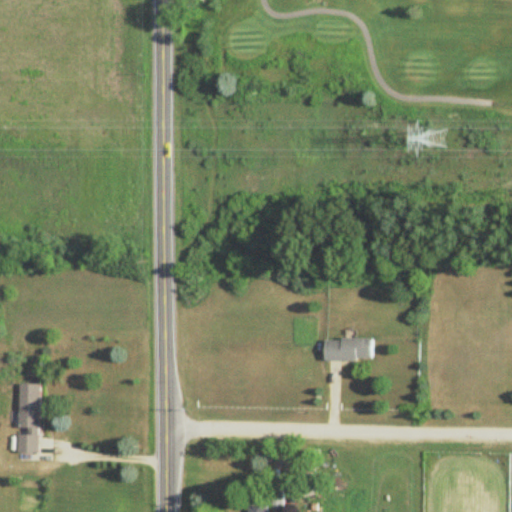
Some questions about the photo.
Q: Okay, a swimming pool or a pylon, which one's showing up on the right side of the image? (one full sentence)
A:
It is a pylon that can be seen on the right side of the image.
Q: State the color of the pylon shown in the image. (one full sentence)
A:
From above, the pylon appears white.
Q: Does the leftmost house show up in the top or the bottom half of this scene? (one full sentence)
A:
It is in the bottom half that the leftmost house appears.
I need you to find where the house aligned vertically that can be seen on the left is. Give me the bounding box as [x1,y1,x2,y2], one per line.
[18,384,44,455]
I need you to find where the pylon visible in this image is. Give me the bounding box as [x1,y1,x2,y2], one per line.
[408,120,448,158]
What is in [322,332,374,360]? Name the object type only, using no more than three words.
house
